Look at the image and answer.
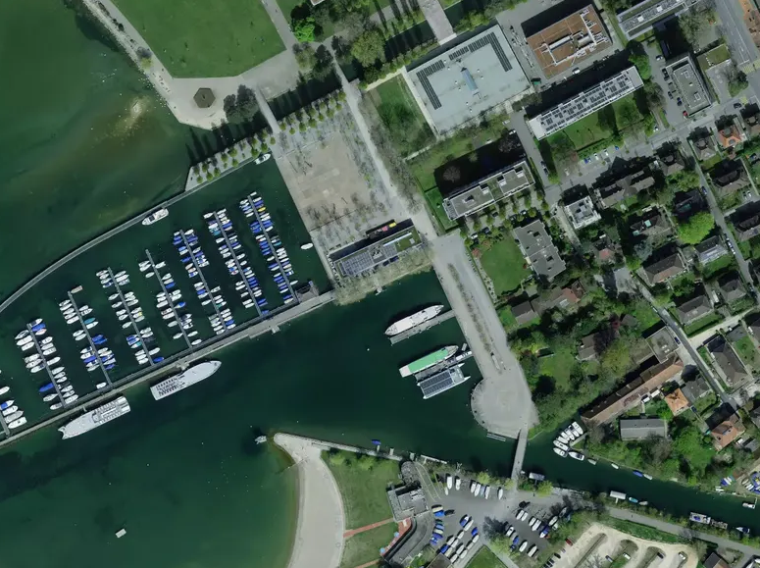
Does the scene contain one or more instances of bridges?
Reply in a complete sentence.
Yes, the frame does contain a bridge.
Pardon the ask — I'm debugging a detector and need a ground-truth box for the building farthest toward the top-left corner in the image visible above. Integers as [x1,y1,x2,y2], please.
[194,89,215,107]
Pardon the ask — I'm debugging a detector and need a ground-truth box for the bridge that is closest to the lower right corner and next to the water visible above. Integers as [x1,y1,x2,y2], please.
[512,423,530,492]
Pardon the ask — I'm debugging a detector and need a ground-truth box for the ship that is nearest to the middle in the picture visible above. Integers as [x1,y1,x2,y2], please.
[385,306,444,333]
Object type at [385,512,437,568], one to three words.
building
